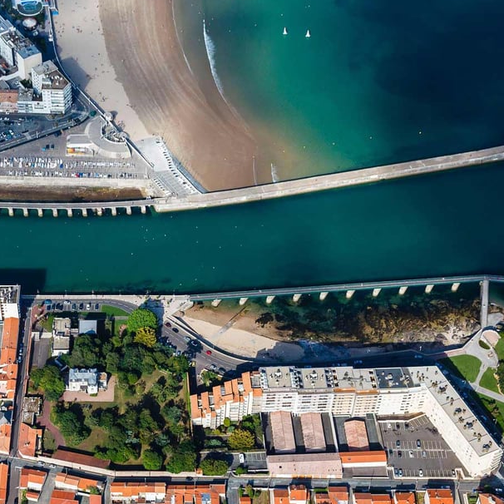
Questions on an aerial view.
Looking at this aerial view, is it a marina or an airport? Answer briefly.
marina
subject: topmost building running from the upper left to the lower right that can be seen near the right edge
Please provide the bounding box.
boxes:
[416,366,503,479]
